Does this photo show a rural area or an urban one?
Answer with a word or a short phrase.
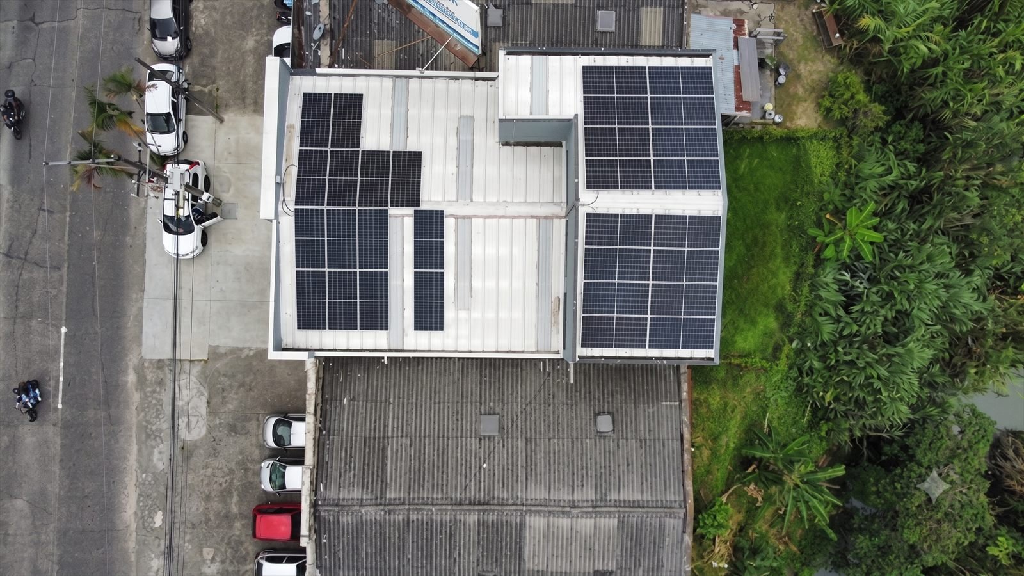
urban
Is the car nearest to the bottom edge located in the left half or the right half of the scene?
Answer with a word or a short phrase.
left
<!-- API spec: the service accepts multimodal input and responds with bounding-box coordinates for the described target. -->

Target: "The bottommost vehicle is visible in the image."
[250,548,306,576]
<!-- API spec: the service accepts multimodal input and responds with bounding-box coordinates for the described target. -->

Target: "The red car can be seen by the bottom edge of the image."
[250,502,304,548]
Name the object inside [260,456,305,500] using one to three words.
car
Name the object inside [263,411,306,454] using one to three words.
car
